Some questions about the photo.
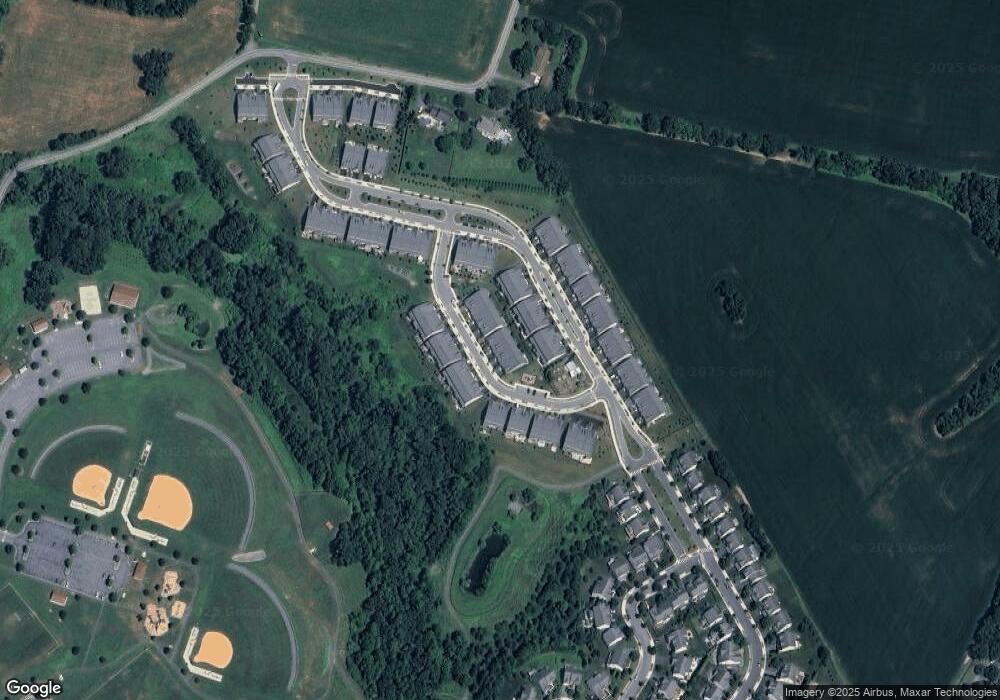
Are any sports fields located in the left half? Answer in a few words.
Yes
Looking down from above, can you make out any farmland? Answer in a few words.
Yes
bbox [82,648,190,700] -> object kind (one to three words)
sports field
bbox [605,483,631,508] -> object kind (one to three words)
house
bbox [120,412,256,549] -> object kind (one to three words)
baseball field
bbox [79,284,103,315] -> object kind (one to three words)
sports court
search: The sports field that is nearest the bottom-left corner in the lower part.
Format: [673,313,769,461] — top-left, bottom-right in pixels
[0,584,58,665]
